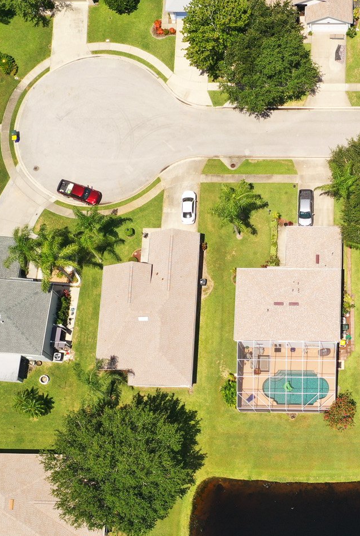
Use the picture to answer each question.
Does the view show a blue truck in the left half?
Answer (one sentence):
No, no blue truck is visible in the left half.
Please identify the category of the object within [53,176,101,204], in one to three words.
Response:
truck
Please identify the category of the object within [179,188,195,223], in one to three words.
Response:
car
